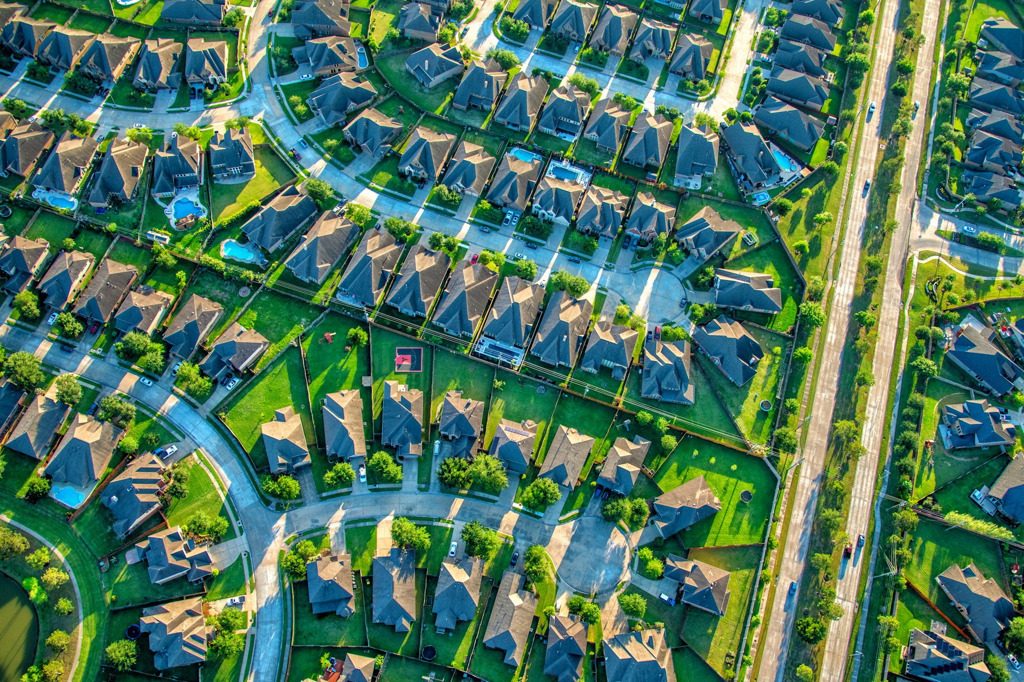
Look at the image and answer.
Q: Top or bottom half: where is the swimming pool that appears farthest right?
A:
top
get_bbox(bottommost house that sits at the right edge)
[908,622,991,682]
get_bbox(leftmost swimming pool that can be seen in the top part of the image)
[32,188,79,211]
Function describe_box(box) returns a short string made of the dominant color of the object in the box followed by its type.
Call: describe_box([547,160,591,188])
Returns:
blue swimming pool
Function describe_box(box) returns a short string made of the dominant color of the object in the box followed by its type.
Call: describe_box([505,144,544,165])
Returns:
blue swimming pool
